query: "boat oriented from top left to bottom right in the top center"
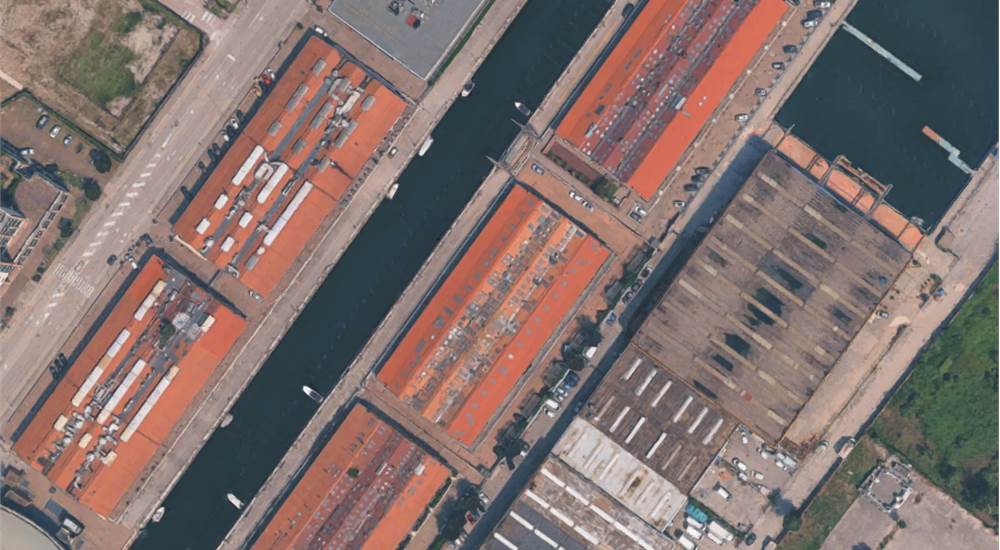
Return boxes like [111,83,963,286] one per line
[516,101,531,116]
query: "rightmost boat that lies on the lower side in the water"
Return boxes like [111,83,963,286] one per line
[303,386,323,405]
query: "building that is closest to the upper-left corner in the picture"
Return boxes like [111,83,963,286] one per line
[0,138,35,190]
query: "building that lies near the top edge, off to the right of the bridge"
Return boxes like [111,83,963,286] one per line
[542,0,799,213]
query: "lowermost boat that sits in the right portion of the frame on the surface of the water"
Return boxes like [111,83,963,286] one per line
[909,214,924,227]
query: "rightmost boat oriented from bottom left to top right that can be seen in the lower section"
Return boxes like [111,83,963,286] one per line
[221,415,234,429]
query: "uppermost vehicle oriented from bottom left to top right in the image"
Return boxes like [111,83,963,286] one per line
[619,4,635,19]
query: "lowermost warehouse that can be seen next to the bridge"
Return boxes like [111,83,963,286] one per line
[374,182,619,450]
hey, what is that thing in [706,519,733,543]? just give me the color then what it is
white truck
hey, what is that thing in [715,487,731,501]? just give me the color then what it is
white vehicle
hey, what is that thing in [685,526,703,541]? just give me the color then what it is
white vehicle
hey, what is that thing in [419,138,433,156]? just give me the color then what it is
white boat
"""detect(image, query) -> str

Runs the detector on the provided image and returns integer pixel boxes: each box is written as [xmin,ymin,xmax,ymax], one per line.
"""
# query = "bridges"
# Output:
[485,118,547,179]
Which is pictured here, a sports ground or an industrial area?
industrial area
